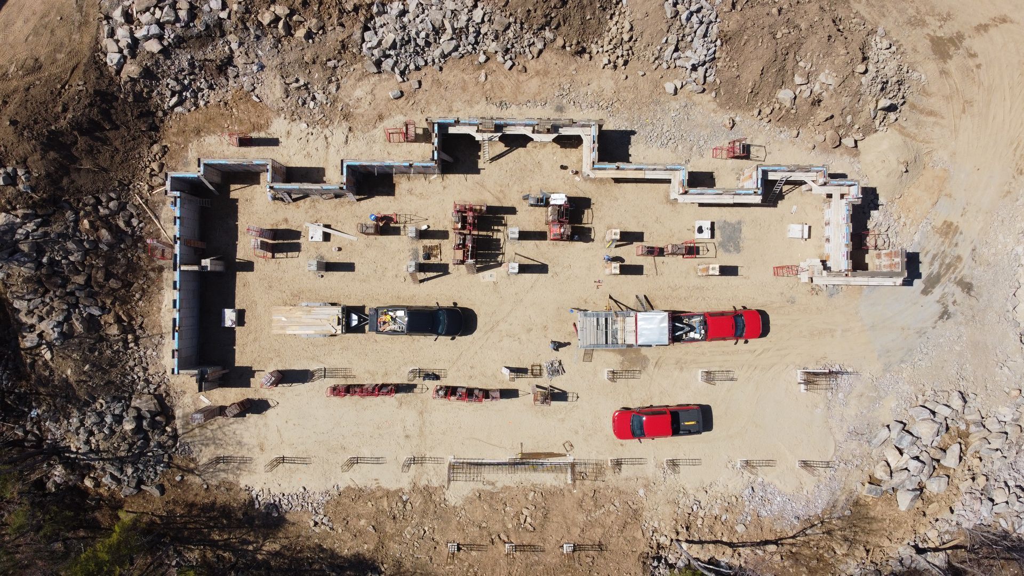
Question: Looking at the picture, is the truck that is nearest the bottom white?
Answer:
No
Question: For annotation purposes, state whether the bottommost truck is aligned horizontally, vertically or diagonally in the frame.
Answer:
horizontally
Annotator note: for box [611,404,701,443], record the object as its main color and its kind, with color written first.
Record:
red truck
